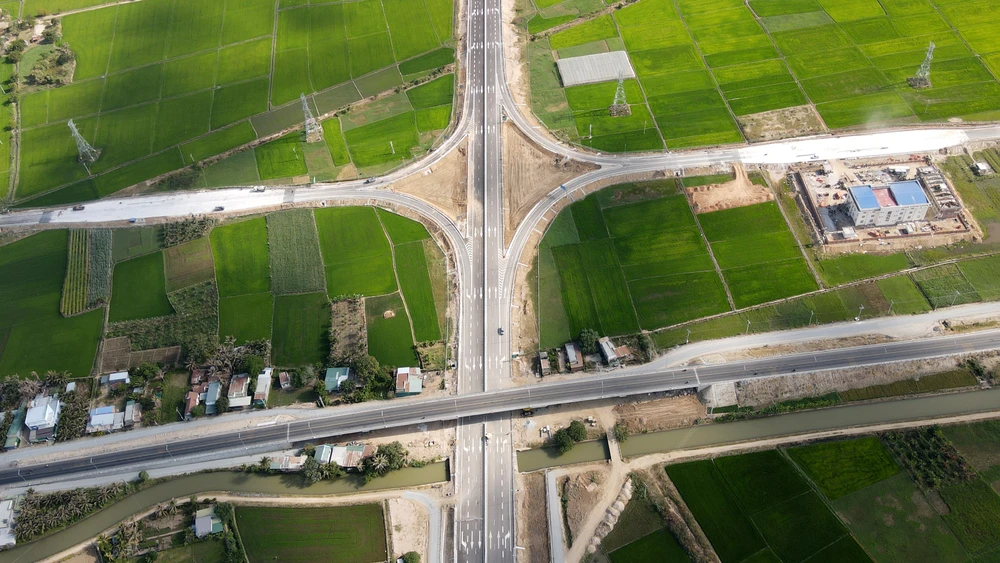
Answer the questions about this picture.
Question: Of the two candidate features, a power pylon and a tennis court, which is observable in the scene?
power pylon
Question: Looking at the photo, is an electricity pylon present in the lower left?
No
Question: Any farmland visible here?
Yes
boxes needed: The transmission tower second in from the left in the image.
[303,93,321,139]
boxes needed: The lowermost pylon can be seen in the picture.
[68,120,96,164]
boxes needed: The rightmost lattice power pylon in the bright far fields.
[910,43,933,88]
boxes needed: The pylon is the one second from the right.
[612,70,628,116]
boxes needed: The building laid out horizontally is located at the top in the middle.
[558,51,635,90]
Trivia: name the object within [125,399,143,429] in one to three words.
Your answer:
house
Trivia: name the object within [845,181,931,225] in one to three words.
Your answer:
building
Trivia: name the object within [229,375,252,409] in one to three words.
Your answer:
house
